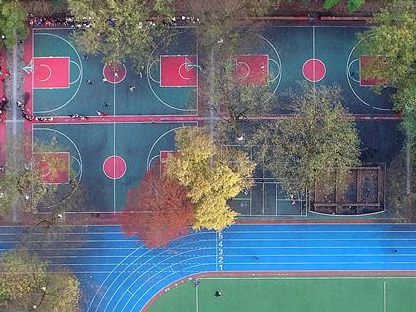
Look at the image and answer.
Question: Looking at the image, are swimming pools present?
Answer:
No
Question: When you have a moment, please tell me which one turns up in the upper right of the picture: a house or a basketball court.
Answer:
basketball court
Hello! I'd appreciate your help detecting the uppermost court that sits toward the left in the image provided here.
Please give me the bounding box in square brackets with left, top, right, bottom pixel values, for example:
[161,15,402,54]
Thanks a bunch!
[32,27,198,117]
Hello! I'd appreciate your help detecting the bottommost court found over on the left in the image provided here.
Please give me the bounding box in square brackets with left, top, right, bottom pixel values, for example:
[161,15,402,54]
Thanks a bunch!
[32,122,198,214]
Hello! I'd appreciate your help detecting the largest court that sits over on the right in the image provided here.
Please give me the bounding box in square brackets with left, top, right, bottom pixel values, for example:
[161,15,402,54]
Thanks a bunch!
[233,25,397,116]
